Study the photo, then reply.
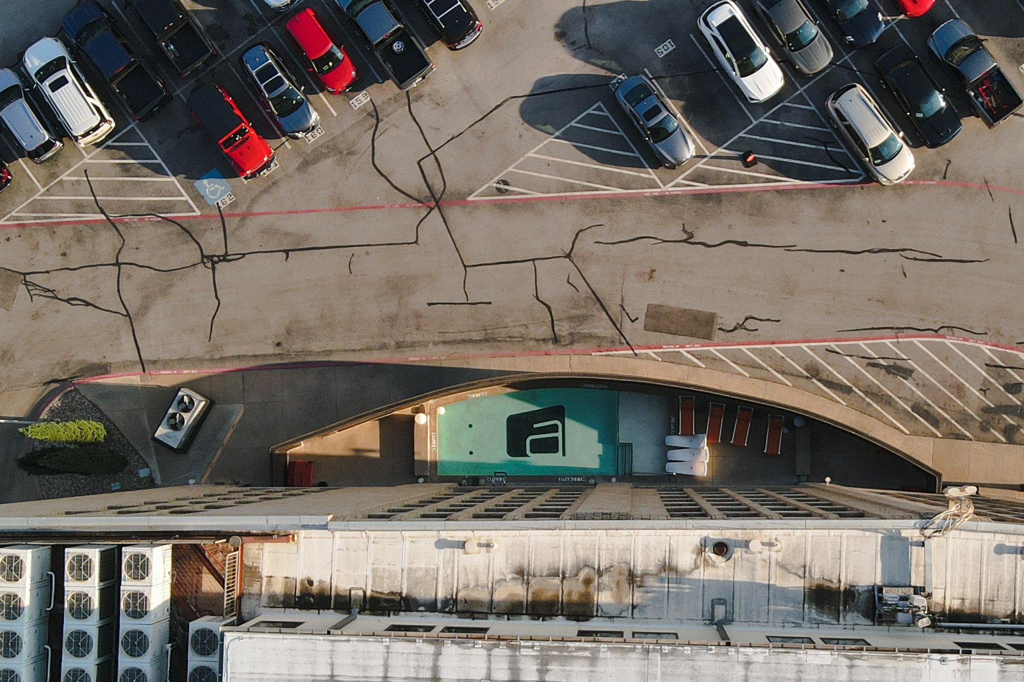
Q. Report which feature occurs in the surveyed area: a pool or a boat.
pool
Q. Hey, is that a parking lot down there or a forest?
parking lot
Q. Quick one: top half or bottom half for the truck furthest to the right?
top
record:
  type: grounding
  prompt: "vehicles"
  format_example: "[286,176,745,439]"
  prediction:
[750,0,830,81]
[184,75,278,184]
[931,15,1024,141]
[0,142,17,189]
[236,34,321,140]
[346,0,439,94]
[418,0,484,54]
[63,0,173,125]
[819,79,907,190]
[0,58,67,166]
[613,72,694,173]
[29,33,117,151]
[815,0,880,55]
[278,3,358,100]
[868,40,960,155]
[694,0,781,110]
[129,0,221,81]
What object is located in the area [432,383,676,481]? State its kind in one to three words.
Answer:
swimming pool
